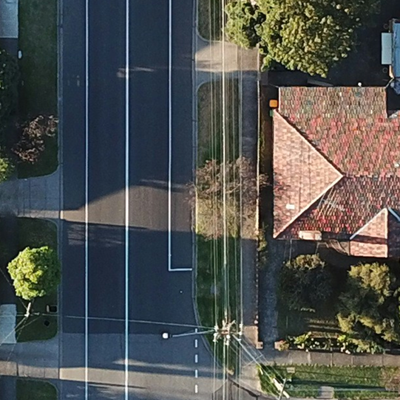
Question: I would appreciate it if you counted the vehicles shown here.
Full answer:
The photo contains no vehicles.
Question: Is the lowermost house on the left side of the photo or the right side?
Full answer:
You can find the lowermost house on the right side of the picture.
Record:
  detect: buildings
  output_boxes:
[381,19,400,77]
[272,81,400,258]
